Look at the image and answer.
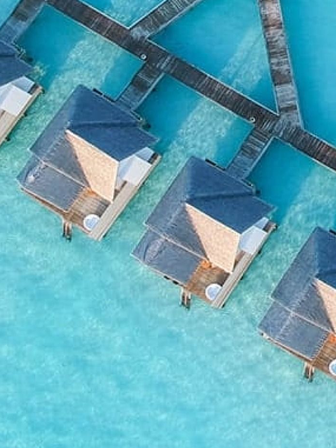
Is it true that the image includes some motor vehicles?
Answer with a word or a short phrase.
No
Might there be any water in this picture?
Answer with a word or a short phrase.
Yes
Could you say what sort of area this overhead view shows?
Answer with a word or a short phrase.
residential area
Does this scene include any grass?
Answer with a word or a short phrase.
No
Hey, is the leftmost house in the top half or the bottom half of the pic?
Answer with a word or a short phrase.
top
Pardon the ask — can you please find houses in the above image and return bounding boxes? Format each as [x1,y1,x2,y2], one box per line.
[249,222,336,384]
[0,37,64,159]
[15,90,172,239]
[129,154,284,310]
